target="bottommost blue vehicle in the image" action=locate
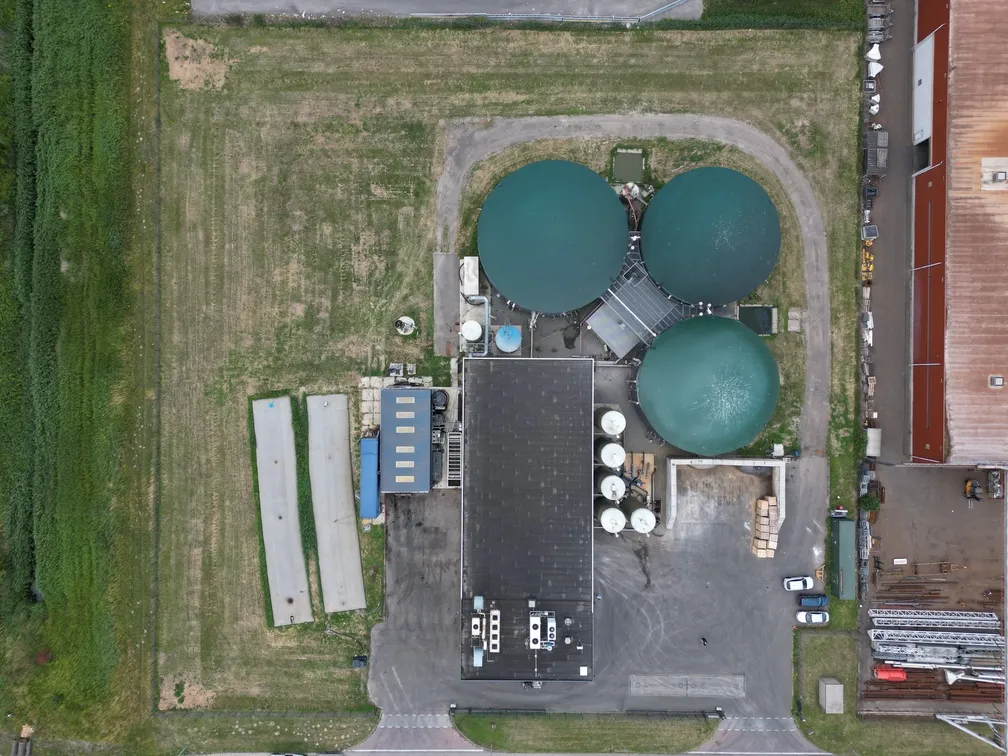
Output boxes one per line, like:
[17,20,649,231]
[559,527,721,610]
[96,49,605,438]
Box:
[797,593,828,608]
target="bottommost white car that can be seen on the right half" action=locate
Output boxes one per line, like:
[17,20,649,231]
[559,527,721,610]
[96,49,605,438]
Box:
[796,609,830,624]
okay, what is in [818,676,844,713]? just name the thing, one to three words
building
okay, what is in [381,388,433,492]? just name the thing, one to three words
building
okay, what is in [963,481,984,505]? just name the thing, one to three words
work vehicle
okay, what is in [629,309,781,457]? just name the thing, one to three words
storage tank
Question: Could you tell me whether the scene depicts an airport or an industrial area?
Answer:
industrial area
